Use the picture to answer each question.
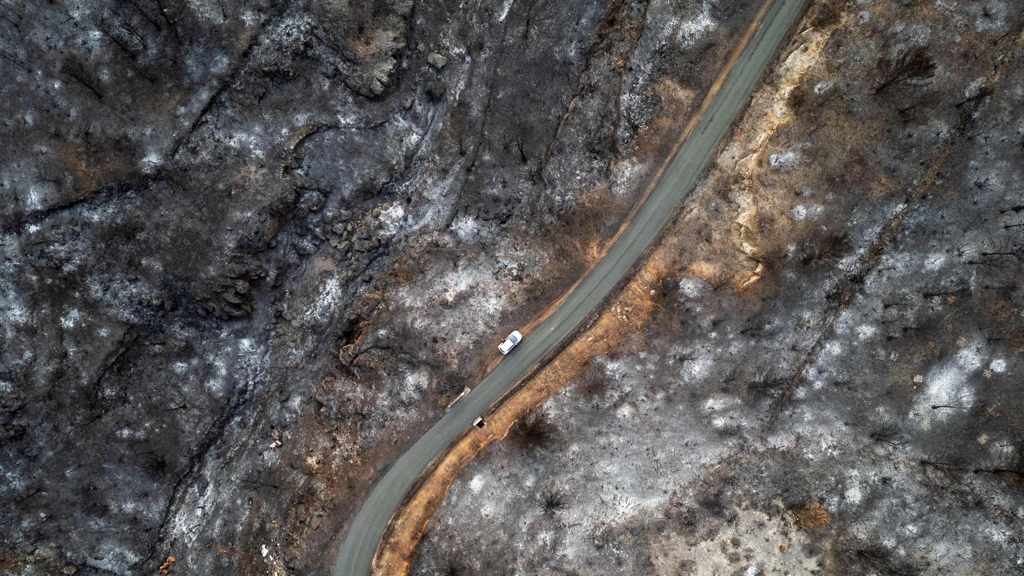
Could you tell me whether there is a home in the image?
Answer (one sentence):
No, I find no home anywhere in the image.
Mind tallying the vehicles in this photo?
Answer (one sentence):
The picture shows just 1 vehicle.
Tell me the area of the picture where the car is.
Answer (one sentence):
The car appears toward the center of the photo.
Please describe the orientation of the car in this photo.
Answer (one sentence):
Seen from above, the car lies at an angle.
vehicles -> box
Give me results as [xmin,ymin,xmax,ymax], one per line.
[499,332,522,355]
